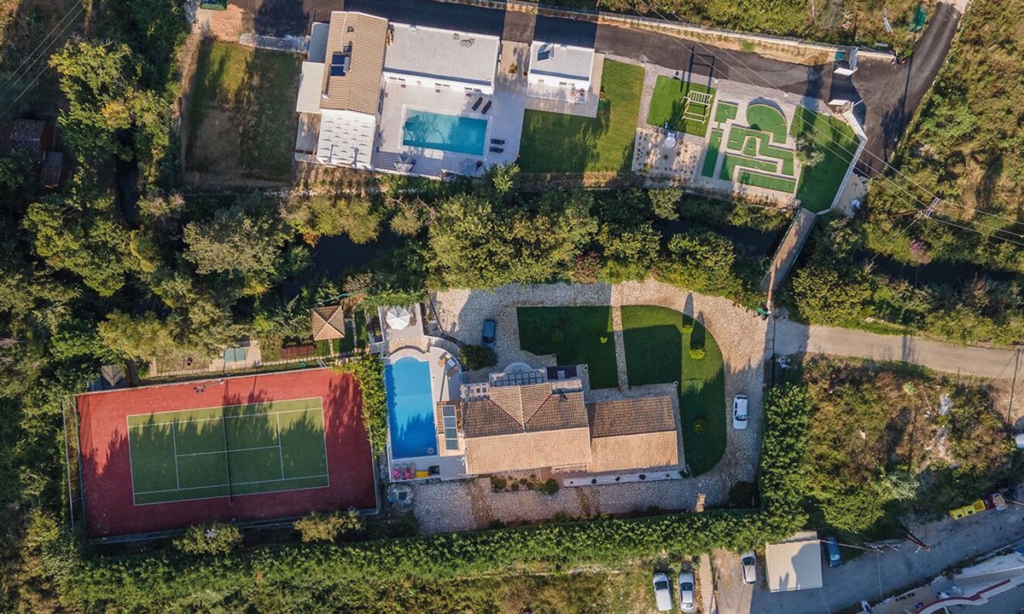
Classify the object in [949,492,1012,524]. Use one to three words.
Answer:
truck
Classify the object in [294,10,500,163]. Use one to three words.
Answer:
house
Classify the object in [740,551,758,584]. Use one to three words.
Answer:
car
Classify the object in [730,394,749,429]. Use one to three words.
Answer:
car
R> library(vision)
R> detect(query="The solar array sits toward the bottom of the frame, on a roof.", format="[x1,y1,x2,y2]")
[442,404,460,451]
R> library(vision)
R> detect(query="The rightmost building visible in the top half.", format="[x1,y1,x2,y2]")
[526,41,595,105]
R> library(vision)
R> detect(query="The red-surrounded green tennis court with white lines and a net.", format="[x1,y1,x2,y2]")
[77,369,376,539]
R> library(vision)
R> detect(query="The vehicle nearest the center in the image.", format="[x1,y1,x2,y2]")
[480,319,496,348]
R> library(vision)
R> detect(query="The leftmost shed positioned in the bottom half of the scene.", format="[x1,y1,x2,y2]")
[101,365,135,388]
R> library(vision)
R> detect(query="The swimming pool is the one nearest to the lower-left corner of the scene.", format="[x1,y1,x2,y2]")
[382,338,465,483]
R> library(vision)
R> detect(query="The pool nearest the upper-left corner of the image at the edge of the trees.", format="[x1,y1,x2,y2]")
[372,66,527,178]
